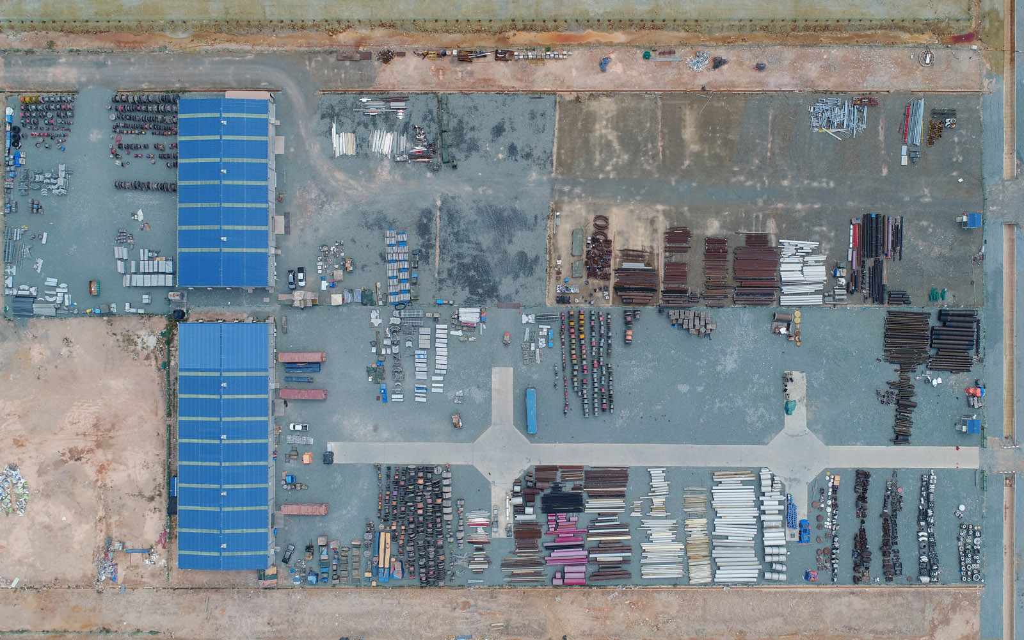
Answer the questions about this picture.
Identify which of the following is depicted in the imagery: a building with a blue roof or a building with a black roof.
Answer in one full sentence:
Looking from above, you can make out a building with a blue roof.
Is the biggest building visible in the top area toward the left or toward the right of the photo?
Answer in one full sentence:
The biggest building visible in the top area appears in the left half of the scene.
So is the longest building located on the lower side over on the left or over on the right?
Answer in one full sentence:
The longest building located on the lower side appears in the left half of the scene.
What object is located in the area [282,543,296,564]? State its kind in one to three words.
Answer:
vehicle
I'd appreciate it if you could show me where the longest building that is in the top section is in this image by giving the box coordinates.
[177,97,275,288]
